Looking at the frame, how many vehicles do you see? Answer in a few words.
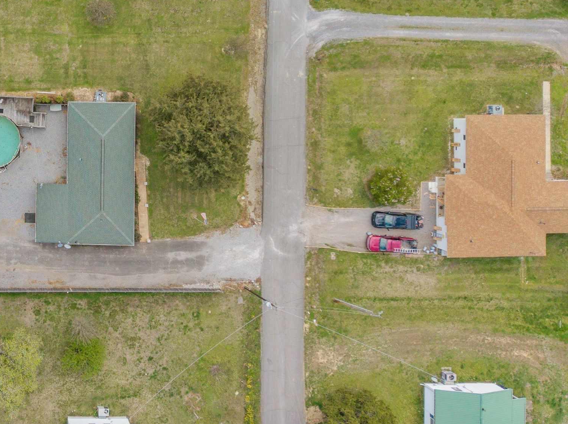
2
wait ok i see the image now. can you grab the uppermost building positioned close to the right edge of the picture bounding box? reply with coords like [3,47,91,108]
[438,114,568,258]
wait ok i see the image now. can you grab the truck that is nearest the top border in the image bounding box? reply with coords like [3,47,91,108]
[368,209,423,233]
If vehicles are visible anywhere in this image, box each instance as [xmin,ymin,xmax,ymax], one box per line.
[368,209,423,233]
[364,232,417,256]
